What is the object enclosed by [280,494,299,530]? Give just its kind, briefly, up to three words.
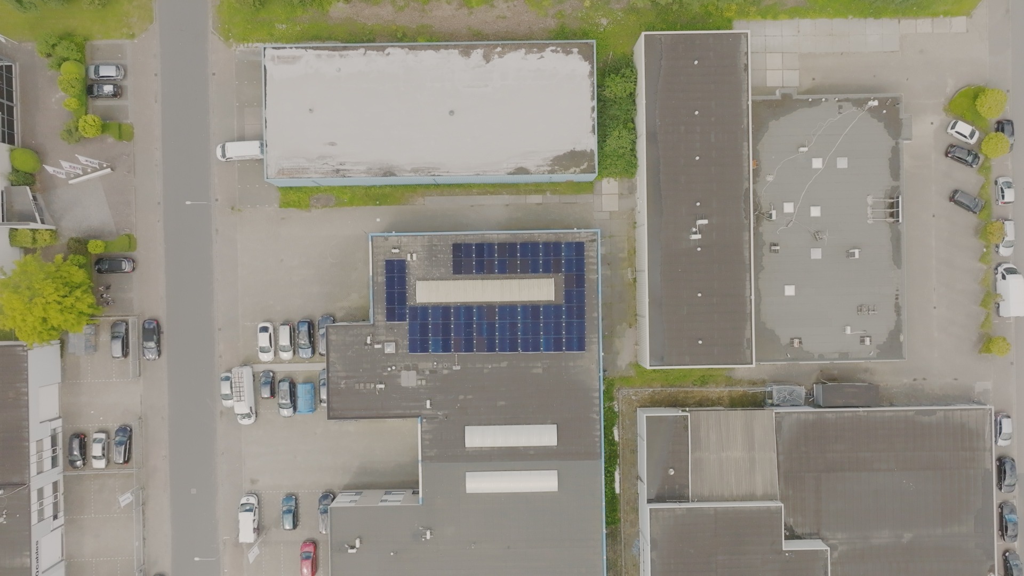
car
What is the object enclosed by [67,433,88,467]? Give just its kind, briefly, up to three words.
car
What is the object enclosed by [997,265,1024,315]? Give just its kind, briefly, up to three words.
vehicle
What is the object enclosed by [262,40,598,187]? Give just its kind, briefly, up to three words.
building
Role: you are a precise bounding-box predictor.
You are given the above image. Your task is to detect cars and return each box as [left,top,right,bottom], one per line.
[995,455,1017,493]
[314,317,333,355]
[996,502,1018,543]
[89,63,127,82]
[295,320,314,358]
[944,144,980,169]
[97,256,136,274]
[993,176,1014,206]
[994,219,1016,256]
[88,81,124,99]
[316,493,335,534]
[141,320,162,359]
[1002,549,1024,576]
[280,494,299,530]
[67,433,88,467]
[991,118,1014,147]
[944,120,979,145]
[993,412,1013,445]
[218,372,231,407]
[298,541,317,576]
[256,323,275,361]
[259,371,276,399]
[314,370,326,407]
[90,432,110,467]
[109,321,130,359]
[112,425,133,464]
[277,378,297,416]
[276,324,295,359]
[947,190,983,214]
